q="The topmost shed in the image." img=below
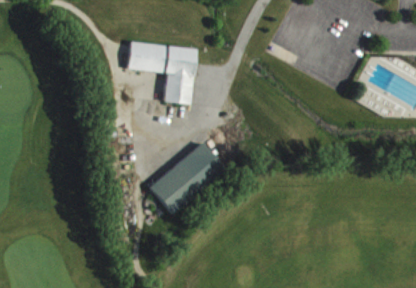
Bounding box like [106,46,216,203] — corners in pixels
[130,40,168,73]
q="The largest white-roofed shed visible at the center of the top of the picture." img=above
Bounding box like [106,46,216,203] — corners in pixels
[164,45,198,106]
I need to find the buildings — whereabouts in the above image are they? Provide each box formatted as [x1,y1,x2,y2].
[152,143,228,214]
[130,40,168,73]
[164,45,198,106]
